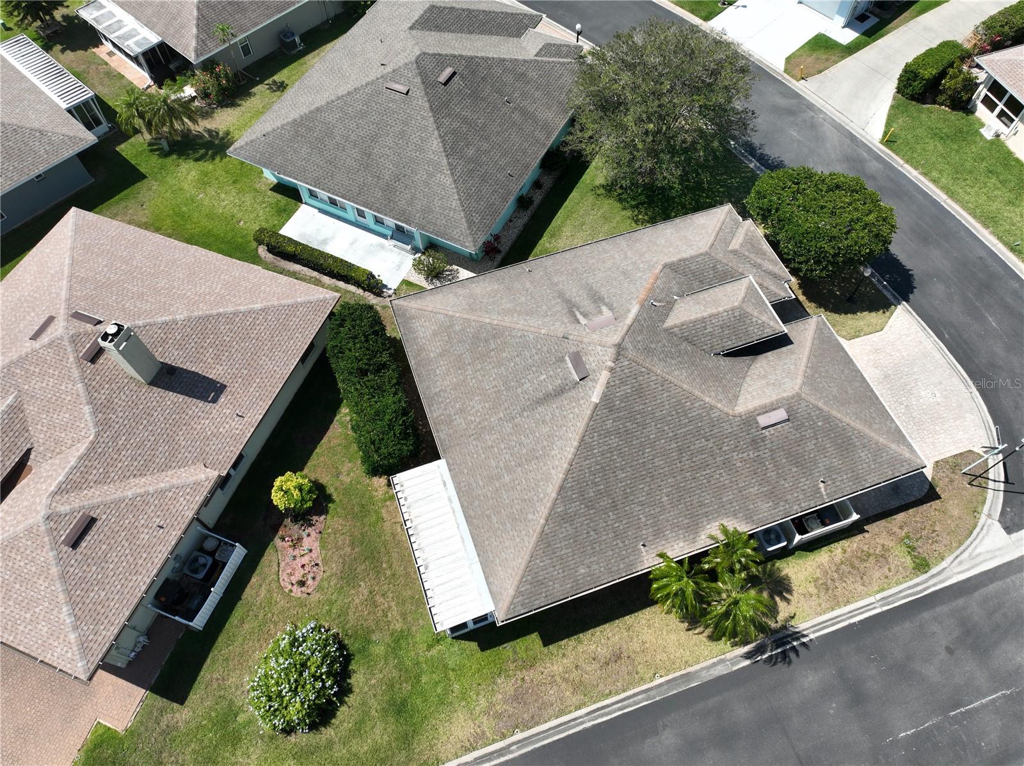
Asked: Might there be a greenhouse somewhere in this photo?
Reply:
No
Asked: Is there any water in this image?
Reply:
No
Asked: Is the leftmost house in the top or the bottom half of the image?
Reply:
top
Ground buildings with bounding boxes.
[799,0,876,27]
[967,41,1024,153]
[0,204,340,686]
[228,0,608,261]
[387,203,928,638]
[81,0,352,85]
[0,33,112,232]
